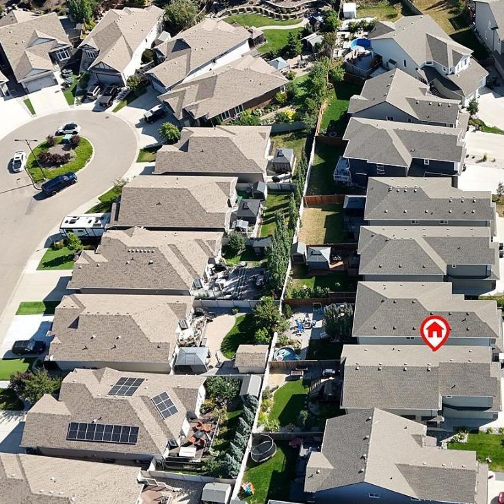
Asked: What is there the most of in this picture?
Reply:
buildings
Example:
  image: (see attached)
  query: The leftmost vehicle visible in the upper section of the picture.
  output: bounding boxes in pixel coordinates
[12,152,28,173]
